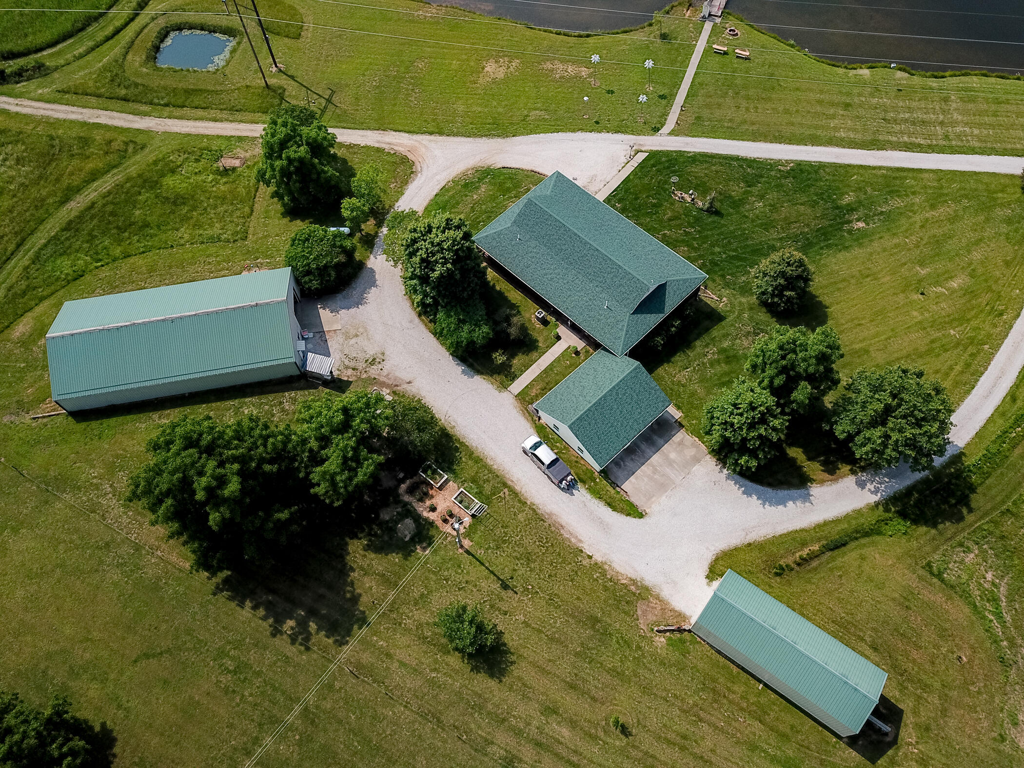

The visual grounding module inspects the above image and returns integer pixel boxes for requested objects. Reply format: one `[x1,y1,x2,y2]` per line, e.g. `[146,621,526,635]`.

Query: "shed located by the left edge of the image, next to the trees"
[46,268,305,414]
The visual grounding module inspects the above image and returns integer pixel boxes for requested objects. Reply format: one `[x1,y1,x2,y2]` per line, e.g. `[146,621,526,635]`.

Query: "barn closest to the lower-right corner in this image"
[687,569,888,737]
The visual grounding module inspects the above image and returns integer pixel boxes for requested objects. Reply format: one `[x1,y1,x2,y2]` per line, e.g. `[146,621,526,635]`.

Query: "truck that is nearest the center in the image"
[520,435,571,488]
